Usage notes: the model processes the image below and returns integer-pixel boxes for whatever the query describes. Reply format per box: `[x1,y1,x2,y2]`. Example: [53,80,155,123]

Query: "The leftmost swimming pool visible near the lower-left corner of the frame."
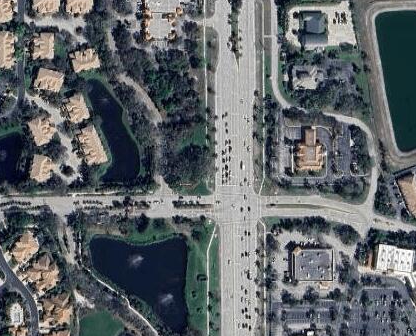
[10,303,23,325]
